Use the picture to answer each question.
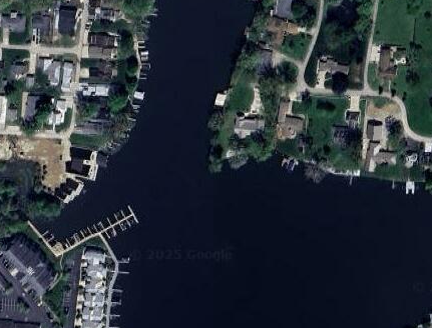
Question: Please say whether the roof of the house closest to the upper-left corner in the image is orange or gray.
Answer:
gray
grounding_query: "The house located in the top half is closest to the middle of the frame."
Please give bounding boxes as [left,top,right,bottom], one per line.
[235,118,264,139]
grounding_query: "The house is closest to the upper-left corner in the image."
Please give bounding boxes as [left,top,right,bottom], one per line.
[0,12,25,34]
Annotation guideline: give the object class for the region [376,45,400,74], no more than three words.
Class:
house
